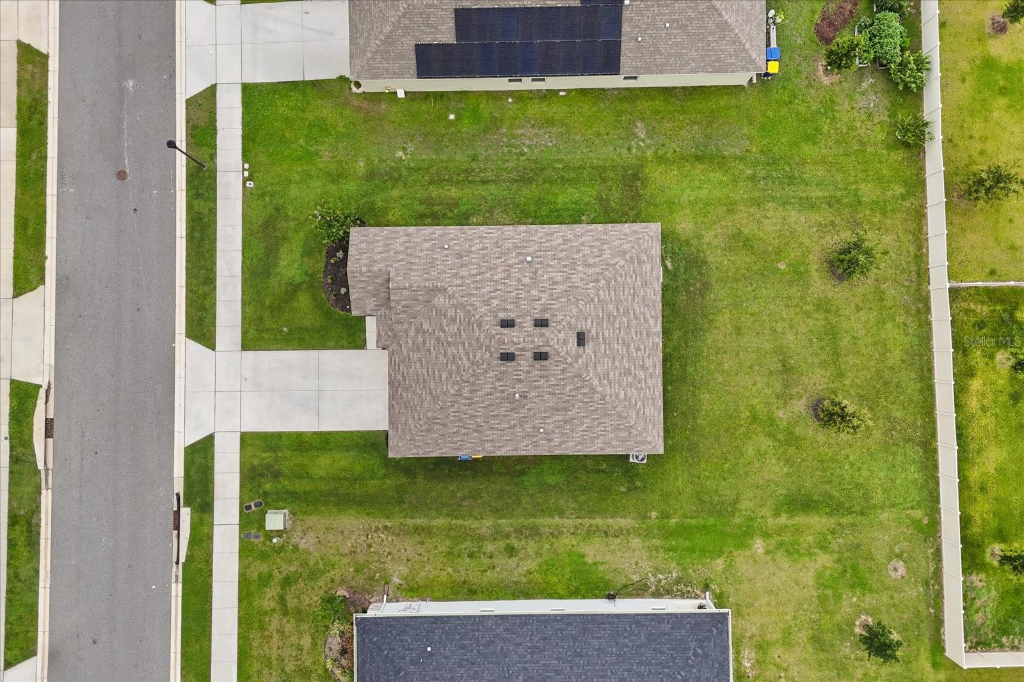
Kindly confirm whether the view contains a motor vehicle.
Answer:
No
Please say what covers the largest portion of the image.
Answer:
grass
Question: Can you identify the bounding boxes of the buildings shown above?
[348,0,768,90]
[354,592,732,682]
[347,221,665,459]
